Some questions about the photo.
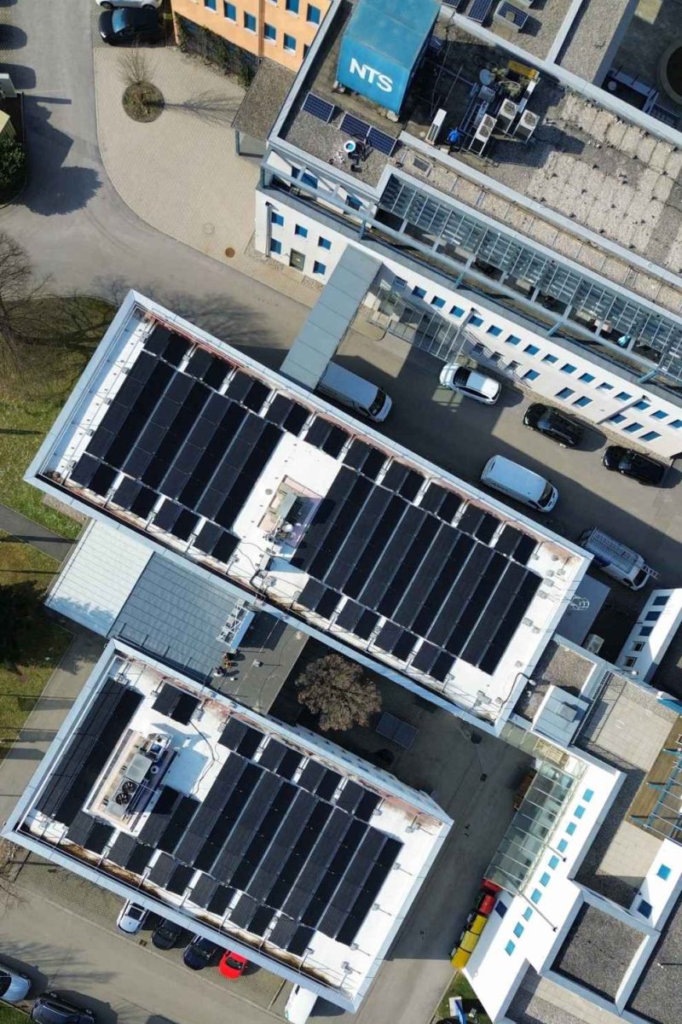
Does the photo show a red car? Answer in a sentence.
Yes, a red car appears in the view.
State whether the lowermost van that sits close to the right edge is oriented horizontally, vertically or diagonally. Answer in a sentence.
The lowermost van that sits close to the right edge is oriented diagonally.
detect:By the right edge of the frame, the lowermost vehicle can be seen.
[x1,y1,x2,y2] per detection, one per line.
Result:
[576,530,665,592]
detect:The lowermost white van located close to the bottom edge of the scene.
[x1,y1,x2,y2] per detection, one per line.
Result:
[276,981,324,1024]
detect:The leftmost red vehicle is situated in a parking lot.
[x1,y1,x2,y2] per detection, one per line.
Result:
[220,949,254,981]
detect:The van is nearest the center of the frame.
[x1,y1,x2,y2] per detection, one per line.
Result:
[318,363,390,421]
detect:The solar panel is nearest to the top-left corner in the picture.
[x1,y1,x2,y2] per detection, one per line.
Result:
[304,96,334,121]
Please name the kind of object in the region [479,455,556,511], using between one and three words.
van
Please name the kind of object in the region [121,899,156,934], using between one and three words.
car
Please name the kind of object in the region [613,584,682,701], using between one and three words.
building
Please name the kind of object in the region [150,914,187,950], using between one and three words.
car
